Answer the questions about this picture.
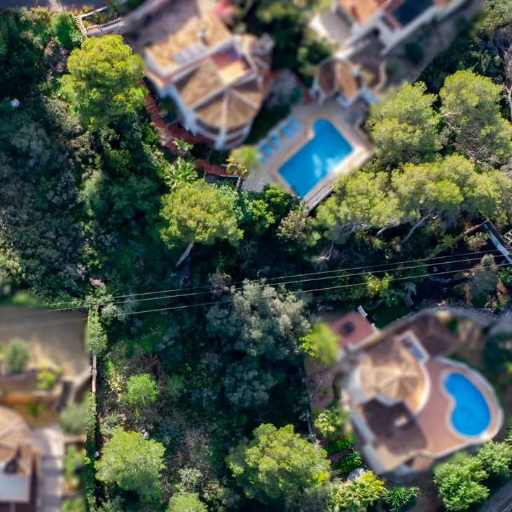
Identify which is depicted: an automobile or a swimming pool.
swimming pool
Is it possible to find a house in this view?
Yes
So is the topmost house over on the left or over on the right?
right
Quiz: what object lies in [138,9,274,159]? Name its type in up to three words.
house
